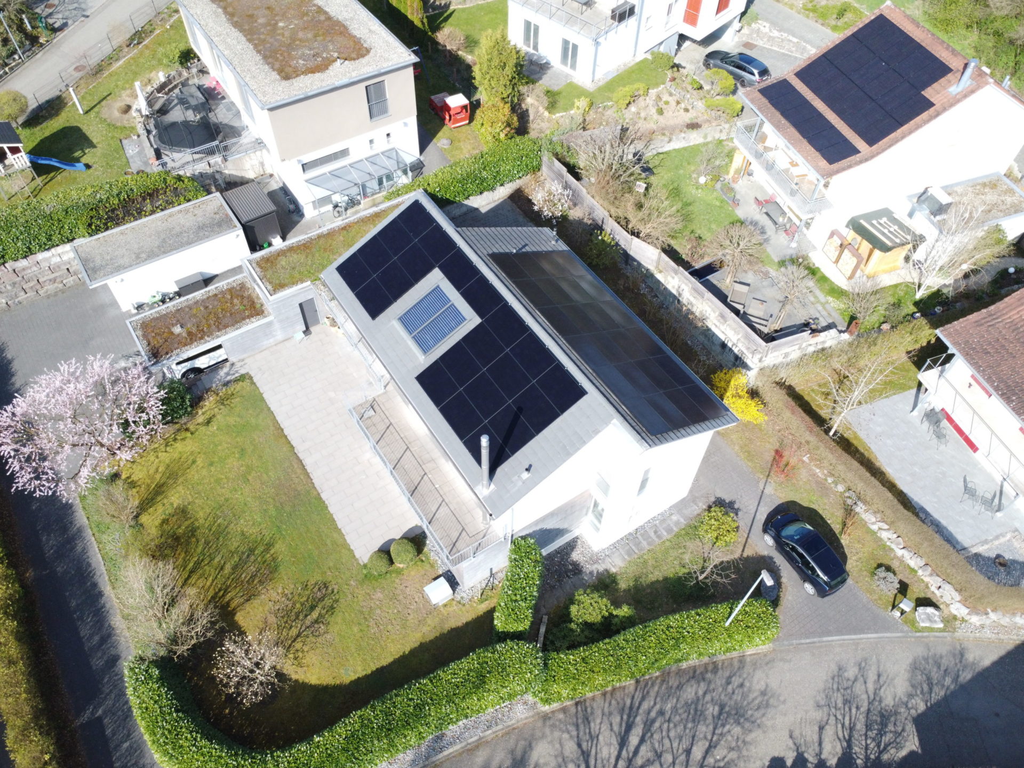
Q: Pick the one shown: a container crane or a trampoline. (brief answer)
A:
trampoline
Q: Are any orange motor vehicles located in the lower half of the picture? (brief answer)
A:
No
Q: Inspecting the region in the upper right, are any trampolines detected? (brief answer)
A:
No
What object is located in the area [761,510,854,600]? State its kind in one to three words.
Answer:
car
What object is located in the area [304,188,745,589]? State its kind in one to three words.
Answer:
house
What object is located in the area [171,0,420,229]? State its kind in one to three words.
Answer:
house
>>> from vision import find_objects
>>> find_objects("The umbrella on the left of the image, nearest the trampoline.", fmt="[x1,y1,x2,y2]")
[133,81,151,118]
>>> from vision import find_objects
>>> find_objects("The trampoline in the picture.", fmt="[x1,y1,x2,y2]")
[142,91,226,165]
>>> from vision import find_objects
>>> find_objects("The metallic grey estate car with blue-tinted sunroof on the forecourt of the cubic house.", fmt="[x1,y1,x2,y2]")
[701,48,769,88]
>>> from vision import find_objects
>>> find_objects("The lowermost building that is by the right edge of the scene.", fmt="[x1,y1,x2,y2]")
[911,287,1024,520]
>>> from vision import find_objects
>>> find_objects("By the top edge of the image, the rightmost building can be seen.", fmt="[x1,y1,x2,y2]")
[728,1,1024,249]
